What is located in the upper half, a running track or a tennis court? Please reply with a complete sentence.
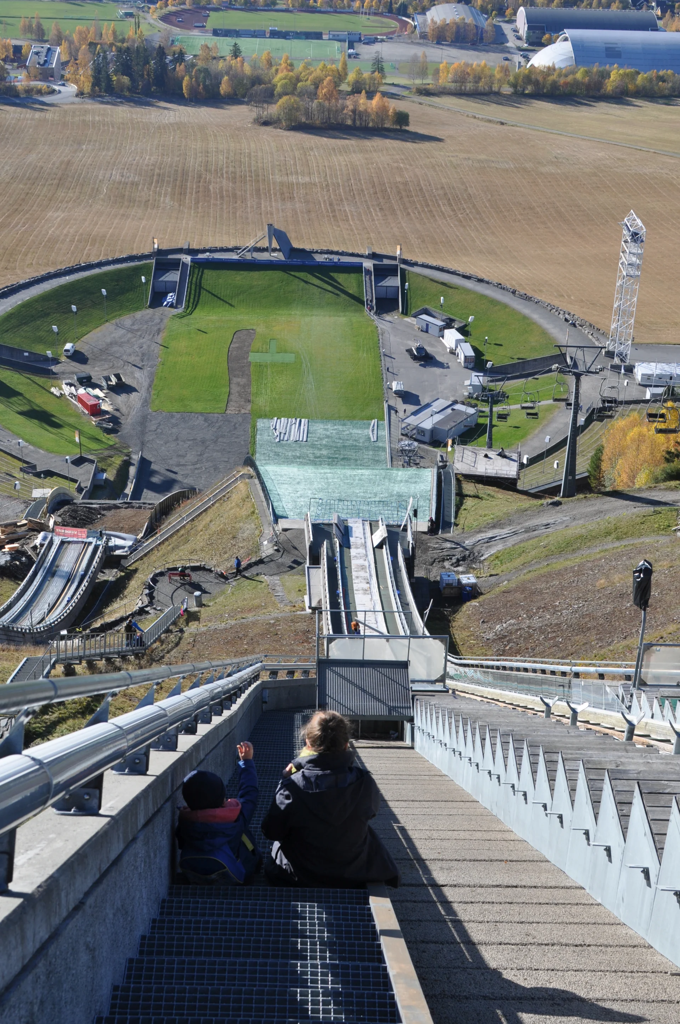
The one visible in the upper half is a running track.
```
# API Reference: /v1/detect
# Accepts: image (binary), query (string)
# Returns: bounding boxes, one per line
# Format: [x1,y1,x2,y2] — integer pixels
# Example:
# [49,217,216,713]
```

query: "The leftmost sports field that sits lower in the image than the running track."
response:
[173,36,341,59]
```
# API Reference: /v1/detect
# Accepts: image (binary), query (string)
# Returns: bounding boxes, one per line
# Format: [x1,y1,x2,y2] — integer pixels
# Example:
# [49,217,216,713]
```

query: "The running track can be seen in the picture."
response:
[163,7,413,36]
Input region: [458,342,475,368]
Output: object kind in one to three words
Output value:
shed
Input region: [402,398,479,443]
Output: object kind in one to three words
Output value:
building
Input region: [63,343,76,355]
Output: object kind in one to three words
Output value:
vehicle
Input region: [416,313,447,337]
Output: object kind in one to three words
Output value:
shed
